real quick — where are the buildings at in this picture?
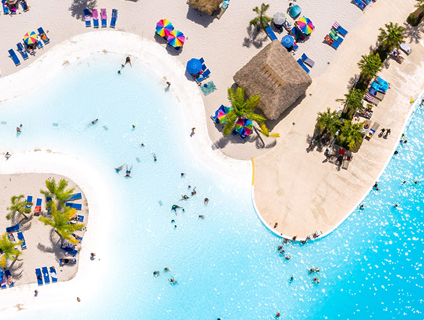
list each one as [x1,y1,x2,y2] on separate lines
[187,0,224,17]
[232,37,311,123]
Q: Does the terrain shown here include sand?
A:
Yes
